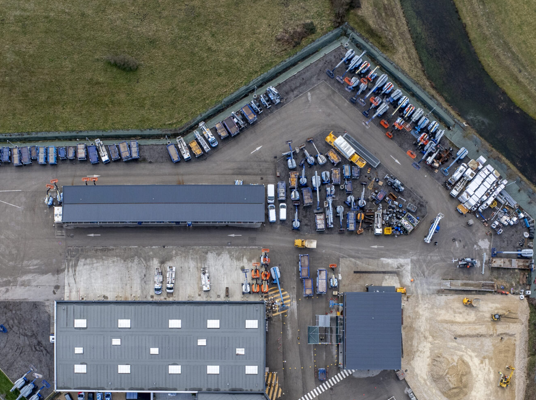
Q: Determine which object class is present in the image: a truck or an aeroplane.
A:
truck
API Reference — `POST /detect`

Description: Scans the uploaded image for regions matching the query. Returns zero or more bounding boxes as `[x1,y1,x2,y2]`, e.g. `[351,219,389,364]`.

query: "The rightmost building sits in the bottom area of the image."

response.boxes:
[339,286,401,369]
